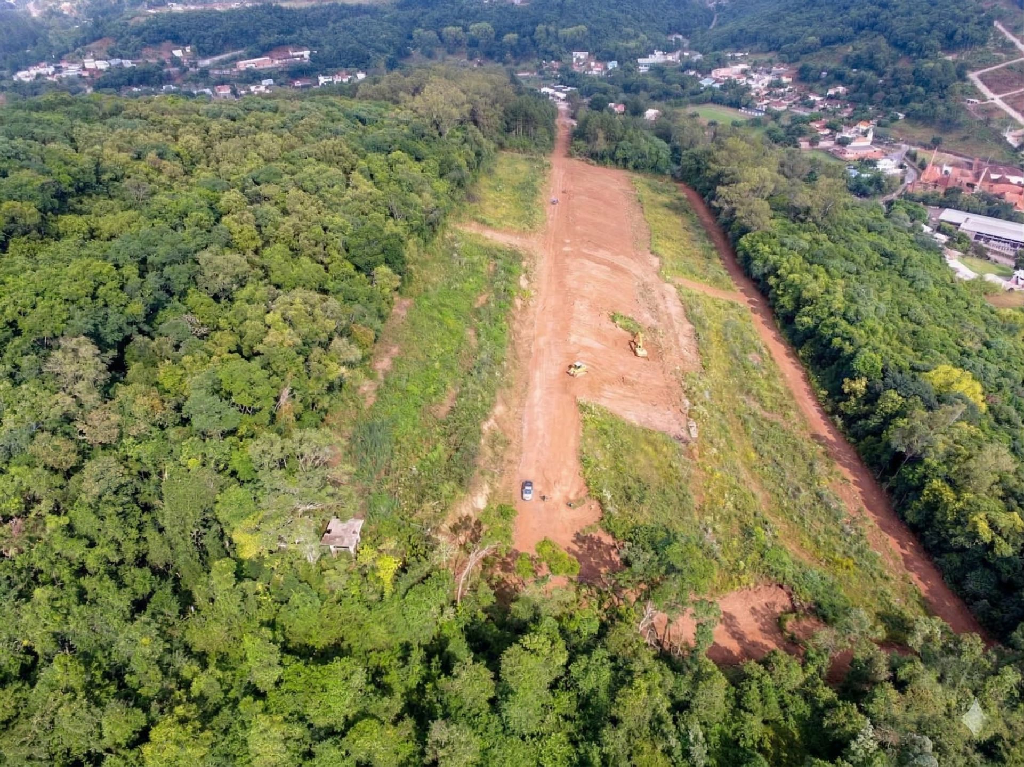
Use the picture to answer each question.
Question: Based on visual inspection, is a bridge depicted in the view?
No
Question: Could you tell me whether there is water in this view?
No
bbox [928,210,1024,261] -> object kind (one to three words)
building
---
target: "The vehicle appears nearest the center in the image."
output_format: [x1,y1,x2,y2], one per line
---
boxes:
[563,360,588,380]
